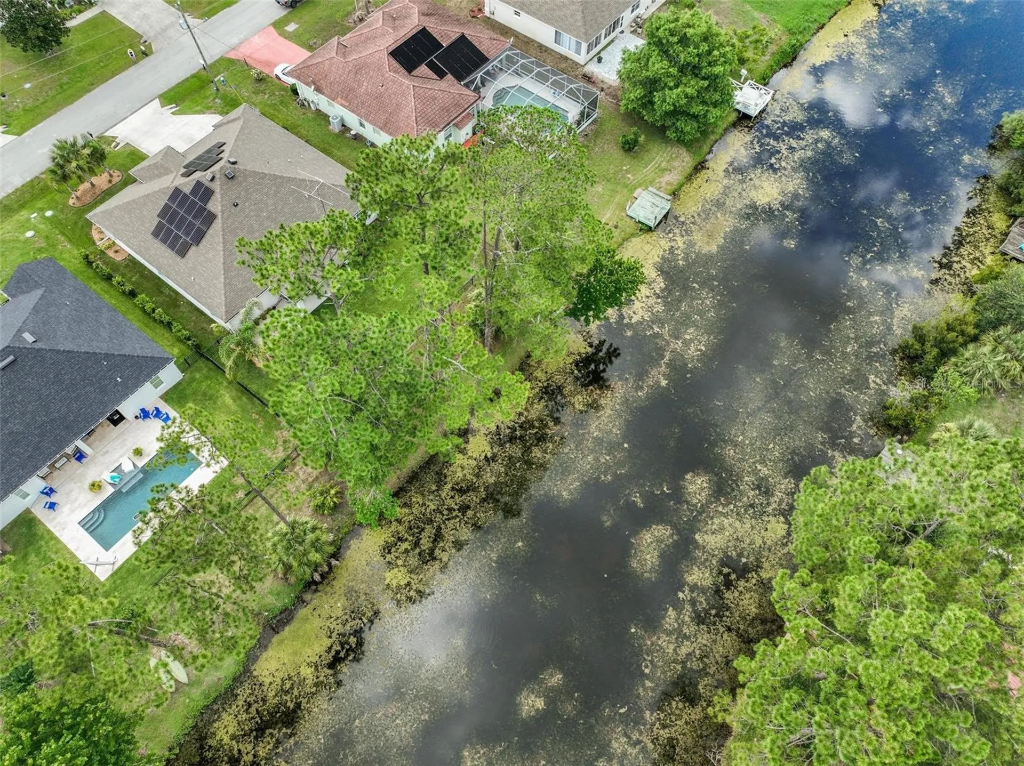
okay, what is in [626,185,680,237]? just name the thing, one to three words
pier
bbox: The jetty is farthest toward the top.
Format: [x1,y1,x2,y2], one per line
[723,71,783,123]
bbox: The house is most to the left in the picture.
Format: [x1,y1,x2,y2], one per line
[0,255,185,533]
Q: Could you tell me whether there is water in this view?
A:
Yes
